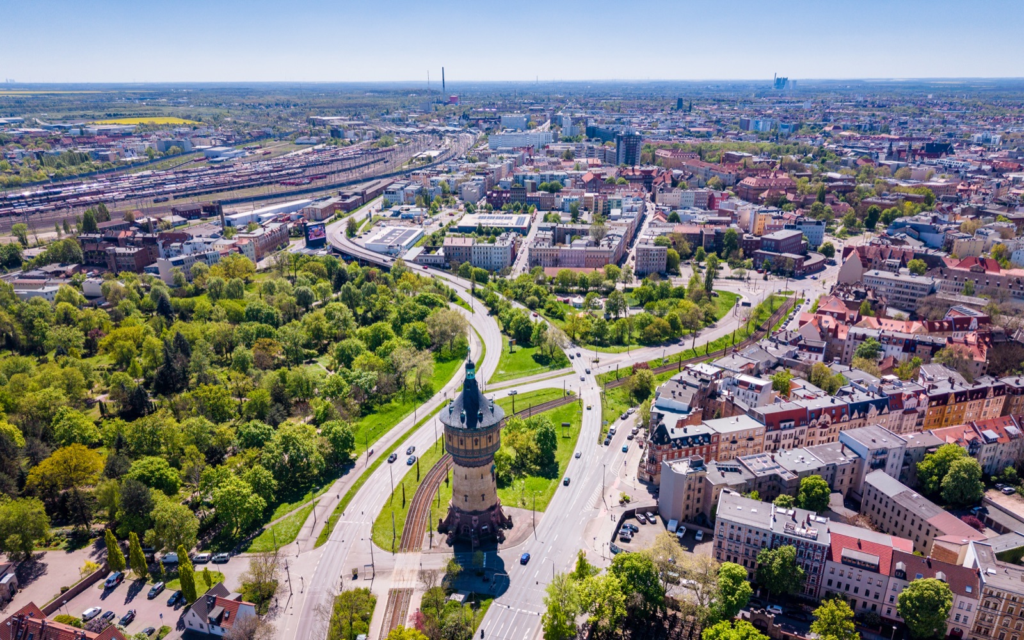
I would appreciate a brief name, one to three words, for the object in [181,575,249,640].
house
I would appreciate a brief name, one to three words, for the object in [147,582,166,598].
car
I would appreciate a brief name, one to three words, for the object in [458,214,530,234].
building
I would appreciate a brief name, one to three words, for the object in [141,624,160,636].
vehicle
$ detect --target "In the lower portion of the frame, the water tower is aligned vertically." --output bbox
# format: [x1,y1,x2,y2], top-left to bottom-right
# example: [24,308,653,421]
[435,342,513,553]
